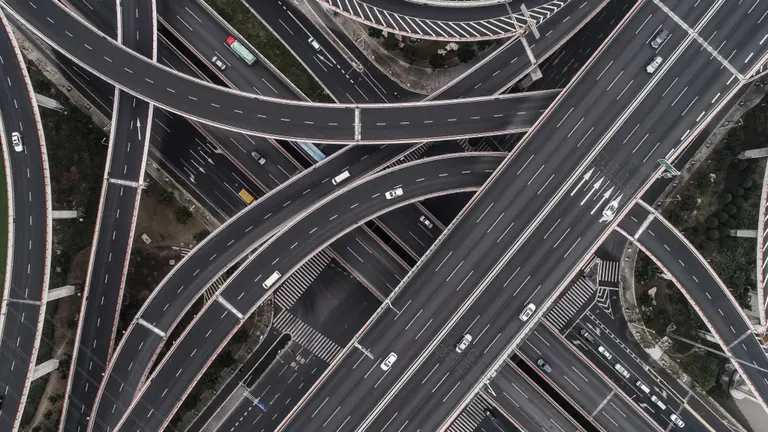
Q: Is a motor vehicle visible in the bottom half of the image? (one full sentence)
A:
Yes, the scene does show a motor vehicle in the bottom half of the image.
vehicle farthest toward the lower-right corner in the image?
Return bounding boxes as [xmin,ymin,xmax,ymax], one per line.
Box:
[670,413,687,429]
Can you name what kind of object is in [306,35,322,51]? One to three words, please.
car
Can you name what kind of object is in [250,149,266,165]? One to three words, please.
car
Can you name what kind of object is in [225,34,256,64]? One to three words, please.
truck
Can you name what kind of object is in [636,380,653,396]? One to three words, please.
vehicle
